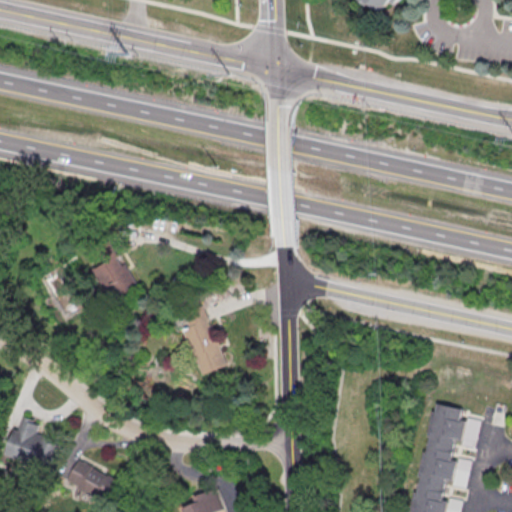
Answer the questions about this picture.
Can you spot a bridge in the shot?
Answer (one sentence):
Yes, a bridge appears in the view.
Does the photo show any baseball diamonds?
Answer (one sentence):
No, I can see no baseball diamond in this picture.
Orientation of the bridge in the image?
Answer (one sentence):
The bridge is laid out up and down.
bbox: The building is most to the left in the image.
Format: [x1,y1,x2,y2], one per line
[2,416,58,460]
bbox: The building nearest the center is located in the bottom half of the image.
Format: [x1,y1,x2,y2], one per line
[185,303,230,374]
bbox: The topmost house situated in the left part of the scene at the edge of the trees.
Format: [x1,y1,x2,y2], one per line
[92,246,138,294]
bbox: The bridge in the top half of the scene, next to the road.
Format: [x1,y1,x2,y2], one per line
[265,98,297,248]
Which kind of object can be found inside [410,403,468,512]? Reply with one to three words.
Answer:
building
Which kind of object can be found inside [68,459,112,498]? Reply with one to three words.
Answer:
house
